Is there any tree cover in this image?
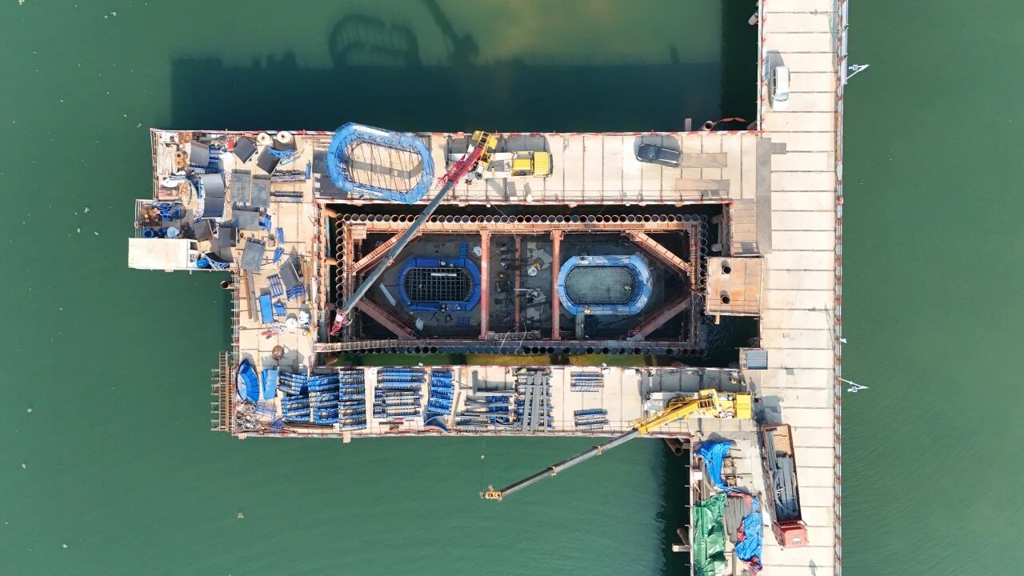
No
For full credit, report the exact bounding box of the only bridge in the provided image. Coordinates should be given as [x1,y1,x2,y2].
[740,0,850,576]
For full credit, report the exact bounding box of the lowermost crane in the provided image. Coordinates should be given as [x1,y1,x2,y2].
[479,376,753,506]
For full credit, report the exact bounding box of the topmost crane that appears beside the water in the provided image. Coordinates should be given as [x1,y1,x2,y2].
[326,127,554,343]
